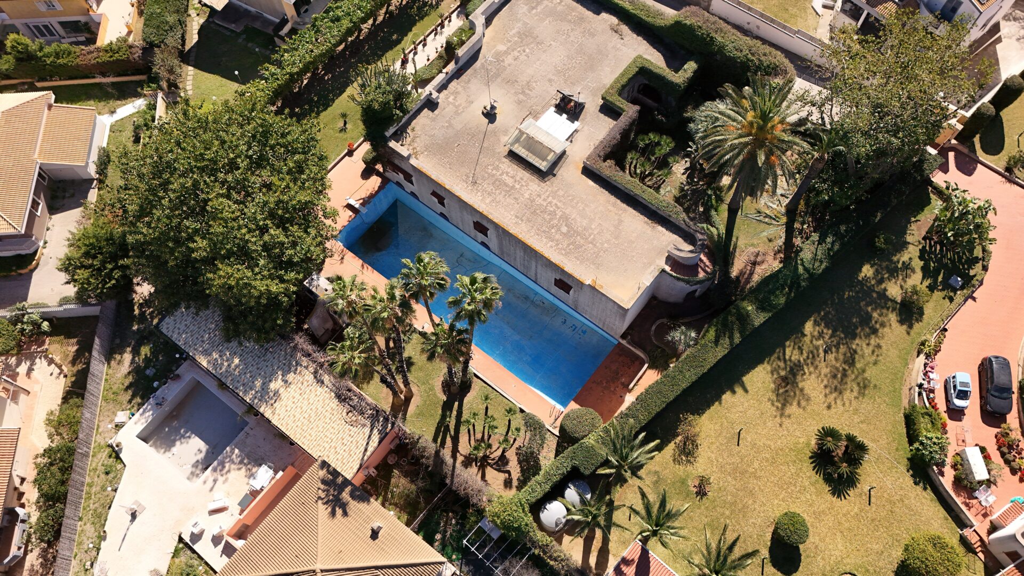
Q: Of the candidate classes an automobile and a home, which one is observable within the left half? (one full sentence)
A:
The one visible within the left half is a home.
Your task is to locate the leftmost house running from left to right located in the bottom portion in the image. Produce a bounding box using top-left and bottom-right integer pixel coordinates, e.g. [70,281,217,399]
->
[211,459,467,576]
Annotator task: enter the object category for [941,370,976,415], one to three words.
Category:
car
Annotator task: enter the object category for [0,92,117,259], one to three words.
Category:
house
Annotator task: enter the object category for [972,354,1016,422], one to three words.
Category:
car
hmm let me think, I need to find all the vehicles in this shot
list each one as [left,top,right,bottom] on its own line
[972,354,1016,422]
[941,370,976,415]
